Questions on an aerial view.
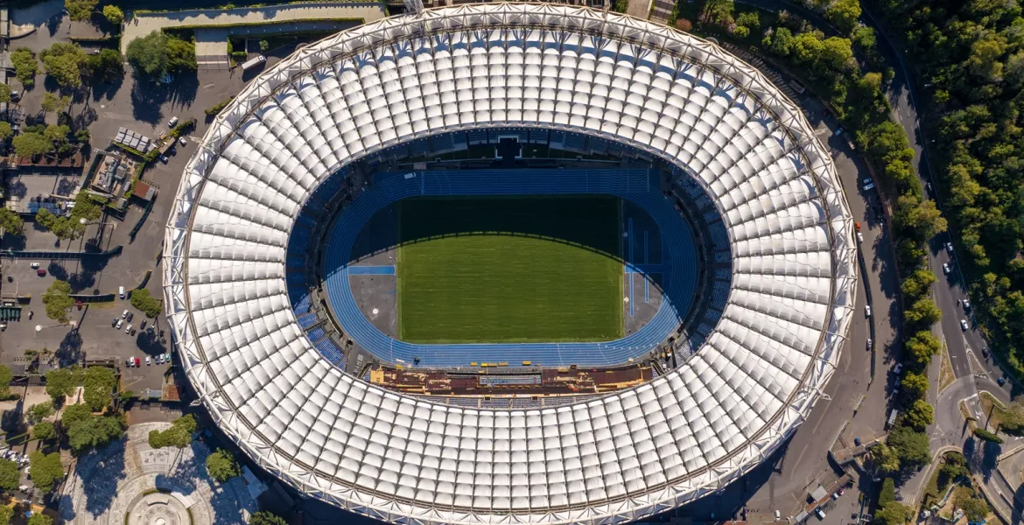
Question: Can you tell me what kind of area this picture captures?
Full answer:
It's a sports ground.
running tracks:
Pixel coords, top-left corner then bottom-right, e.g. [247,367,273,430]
[325,169,699,367]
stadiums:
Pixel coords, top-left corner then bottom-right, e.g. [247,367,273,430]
[163,2,856,525]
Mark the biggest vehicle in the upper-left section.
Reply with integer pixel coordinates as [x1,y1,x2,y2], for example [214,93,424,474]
[240,55,265,70]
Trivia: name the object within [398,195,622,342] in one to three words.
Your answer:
soccer field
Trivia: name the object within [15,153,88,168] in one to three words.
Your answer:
building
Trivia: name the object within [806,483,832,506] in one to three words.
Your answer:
building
